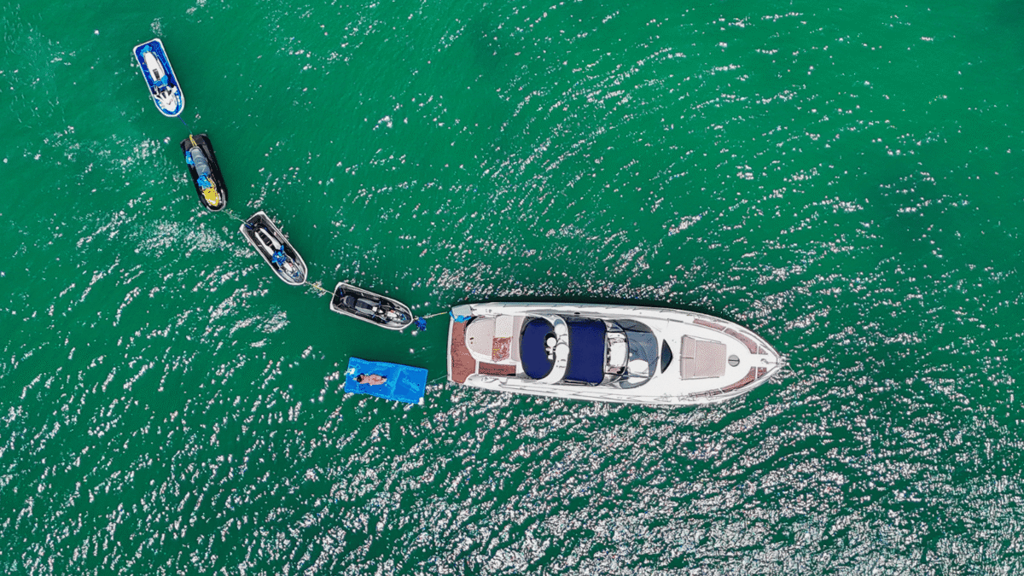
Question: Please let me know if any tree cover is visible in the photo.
No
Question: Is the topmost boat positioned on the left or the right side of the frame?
left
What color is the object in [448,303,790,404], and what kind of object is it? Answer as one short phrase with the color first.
white boat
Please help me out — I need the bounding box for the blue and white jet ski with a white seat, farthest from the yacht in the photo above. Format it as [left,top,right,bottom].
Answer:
[136,41,184,119]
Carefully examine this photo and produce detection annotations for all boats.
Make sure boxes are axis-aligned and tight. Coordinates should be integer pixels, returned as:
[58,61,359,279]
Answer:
[448,303,790,404]
[182,135,228,213]
[332,282,414,329]
[136,41,184,119]
[243,212,309,286]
